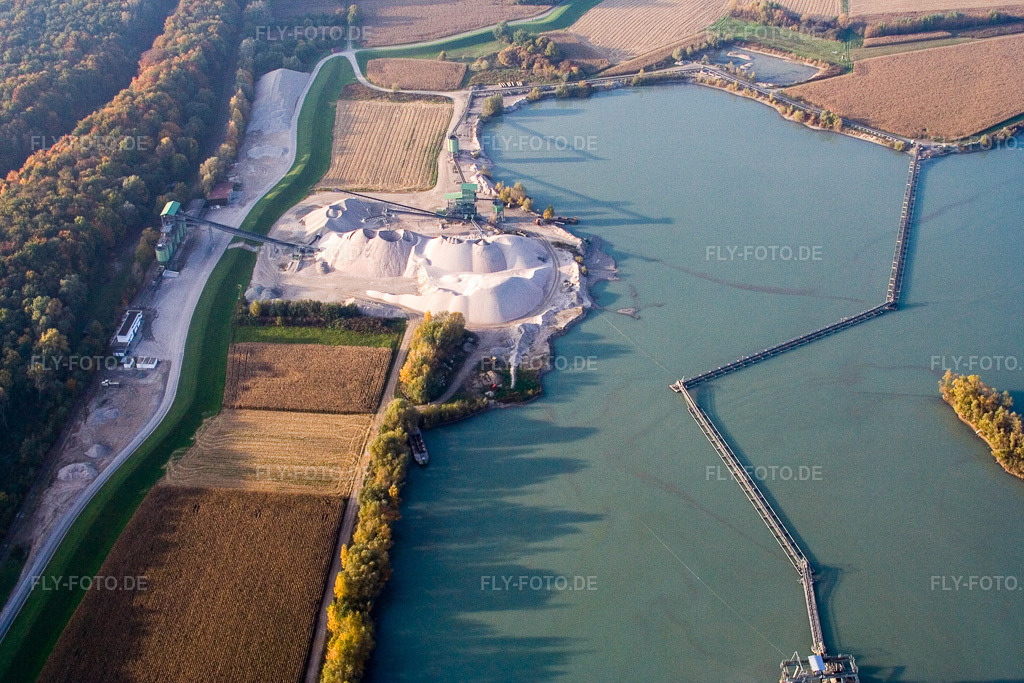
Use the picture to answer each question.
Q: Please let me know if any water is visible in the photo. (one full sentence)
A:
Yes, the picture does contain water.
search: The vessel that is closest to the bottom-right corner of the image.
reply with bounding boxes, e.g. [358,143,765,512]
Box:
[778,642,866,683]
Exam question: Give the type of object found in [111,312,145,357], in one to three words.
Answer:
building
